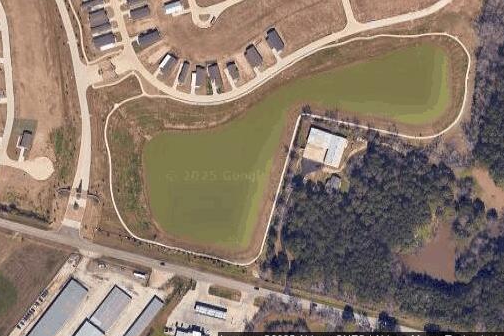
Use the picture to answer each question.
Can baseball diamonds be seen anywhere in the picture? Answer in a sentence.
No, no baseball diamond is visible in the scene.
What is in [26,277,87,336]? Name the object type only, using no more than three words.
building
